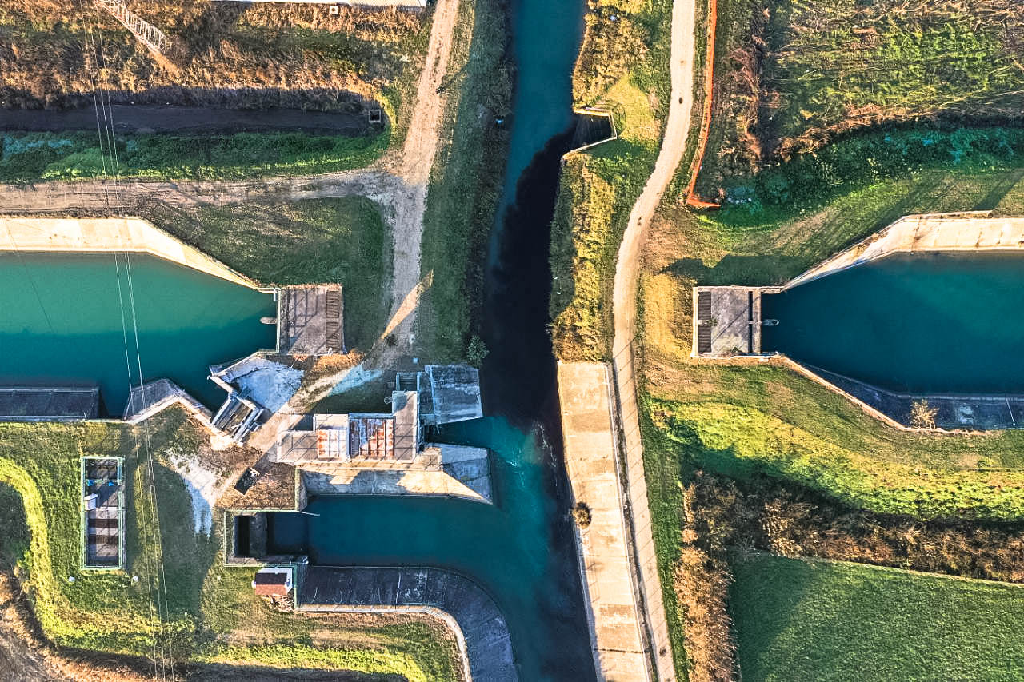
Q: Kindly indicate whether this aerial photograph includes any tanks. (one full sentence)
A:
Yes, the picture does show a tank.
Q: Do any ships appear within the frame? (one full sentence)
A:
No, no ship can be seen from above.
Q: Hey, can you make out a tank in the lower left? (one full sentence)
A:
Yes, you'll find a tank in the lower left.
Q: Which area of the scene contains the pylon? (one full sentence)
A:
Look in the top left portion of the view to spot the pylon.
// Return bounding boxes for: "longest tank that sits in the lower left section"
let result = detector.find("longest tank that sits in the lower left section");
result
[76,457,125,572]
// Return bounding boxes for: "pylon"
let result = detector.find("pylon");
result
[99,0,174,53]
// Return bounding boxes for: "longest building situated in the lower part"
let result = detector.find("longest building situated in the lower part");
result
[271,390,449,473]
